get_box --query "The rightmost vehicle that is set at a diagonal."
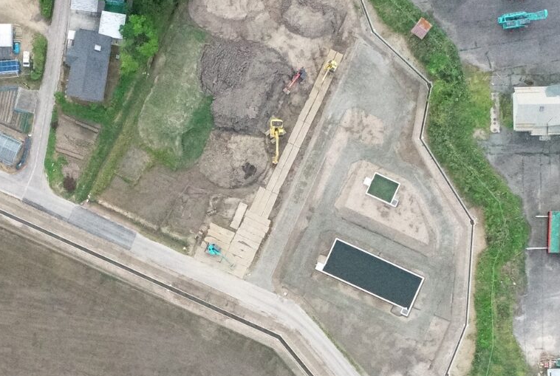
[318,57,339,84]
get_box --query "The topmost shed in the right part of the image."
[408,18,433,43]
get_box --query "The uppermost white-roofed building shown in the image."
[69,0,98,16]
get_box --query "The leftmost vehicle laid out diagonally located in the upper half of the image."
[285,66,309,95]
